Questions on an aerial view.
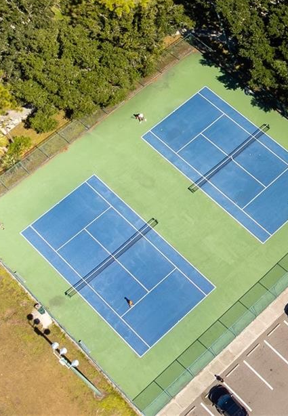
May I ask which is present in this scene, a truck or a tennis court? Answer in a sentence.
The image shows a tennis court.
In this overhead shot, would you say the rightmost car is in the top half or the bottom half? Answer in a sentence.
Seen from above, the rightmost car lies in the bottom half of the view.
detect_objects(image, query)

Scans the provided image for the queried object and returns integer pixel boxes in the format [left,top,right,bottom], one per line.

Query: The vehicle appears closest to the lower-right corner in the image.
[211,384,250,416]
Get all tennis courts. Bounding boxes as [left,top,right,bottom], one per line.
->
[91,49,288,302]
[0,130,280,416]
